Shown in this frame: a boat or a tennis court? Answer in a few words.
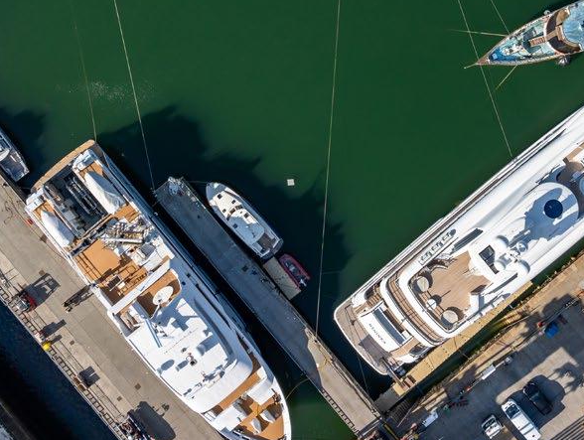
boat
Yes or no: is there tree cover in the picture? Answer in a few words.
No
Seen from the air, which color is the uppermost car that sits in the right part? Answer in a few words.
black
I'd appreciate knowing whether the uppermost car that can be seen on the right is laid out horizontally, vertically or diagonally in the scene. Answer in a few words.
diagonally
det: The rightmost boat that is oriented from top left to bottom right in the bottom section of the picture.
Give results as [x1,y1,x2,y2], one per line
[278,253,311,292]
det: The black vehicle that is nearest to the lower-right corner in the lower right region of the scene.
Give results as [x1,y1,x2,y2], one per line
[522,380,554,417]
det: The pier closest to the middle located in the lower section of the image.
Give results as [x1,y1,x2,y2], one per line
[264,256,300,301]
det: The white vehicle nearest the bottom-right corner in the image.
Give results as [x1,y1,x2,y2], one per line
[501,400,542,440]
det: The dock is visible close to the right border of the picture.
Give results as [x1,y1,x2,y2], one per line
[393,254,570,398]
